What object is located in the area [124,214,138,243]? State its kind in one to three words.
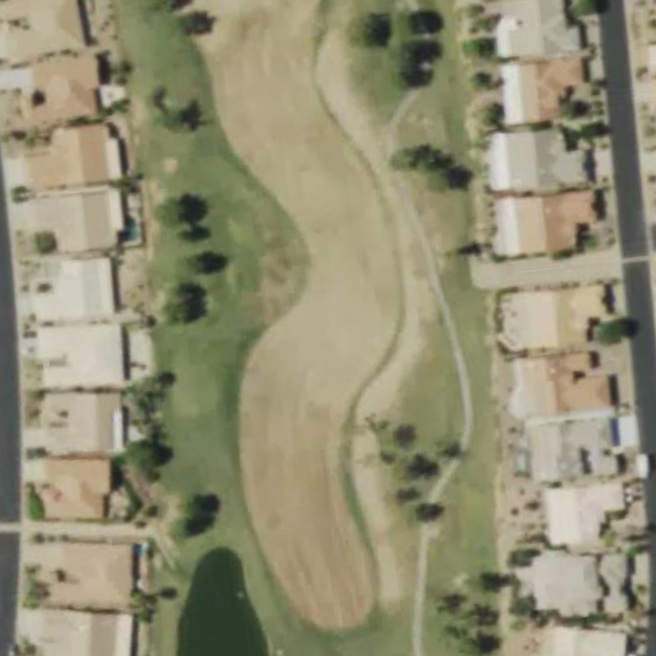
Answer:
swimming pool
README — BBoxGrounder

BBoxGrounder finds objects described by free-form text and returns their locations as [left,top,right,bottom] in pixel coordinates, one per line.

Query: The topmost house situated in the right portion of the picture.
[496,0,585,59]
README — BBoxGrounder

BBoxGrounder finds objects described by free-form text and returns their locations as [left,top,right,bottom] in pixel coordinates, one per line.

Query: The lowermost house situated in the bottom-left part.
[41,609,132,656]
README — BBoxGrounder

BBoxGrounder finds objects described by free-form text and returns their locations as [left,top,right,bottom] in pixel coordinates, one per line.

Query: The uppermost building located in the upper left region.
[0,0,84,58]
